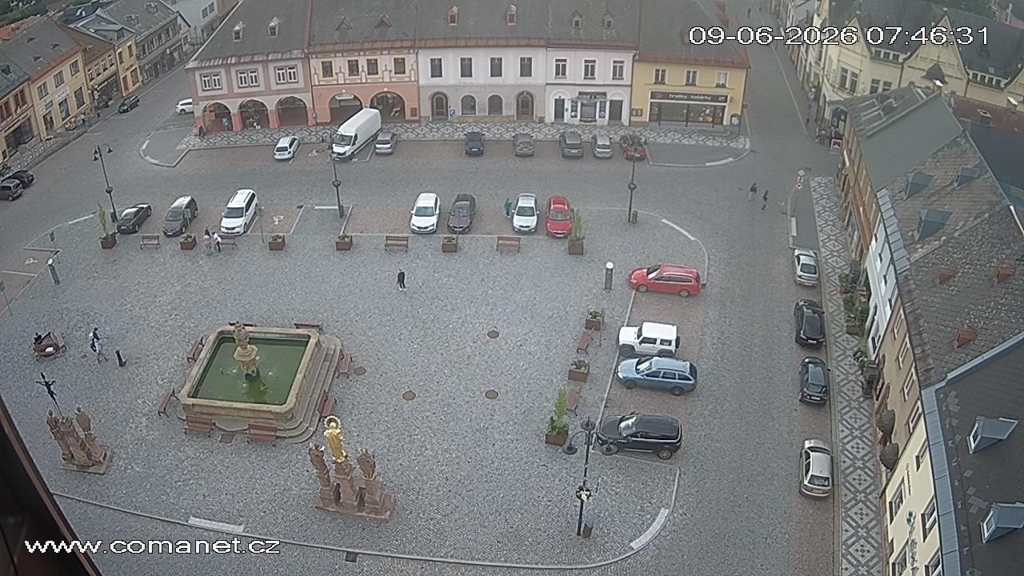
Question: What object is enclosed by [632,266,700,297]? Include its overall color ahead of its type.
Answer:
red car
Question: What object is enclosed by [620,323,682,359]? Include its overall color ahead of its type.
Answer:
white car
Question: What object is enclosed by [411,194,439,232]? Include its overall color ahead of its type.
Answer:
white car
